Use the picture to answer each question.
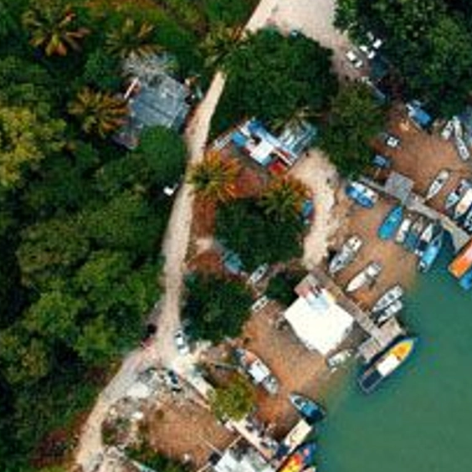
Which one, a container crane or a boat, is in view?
boat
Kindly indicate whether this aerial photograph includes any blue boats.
Yes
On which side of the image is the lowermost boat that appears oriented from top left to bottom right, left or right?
right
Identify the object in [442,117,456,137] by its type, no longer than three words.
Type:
boat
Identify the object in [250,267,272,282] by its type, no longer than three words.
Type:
boat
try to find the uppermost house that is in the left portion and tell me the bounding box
[122,70,198,130]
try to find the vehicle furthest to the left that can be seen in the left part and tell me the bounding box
[140,318,159,342]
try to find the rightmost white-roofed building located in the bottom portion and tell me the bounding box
[285,275,363,356]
